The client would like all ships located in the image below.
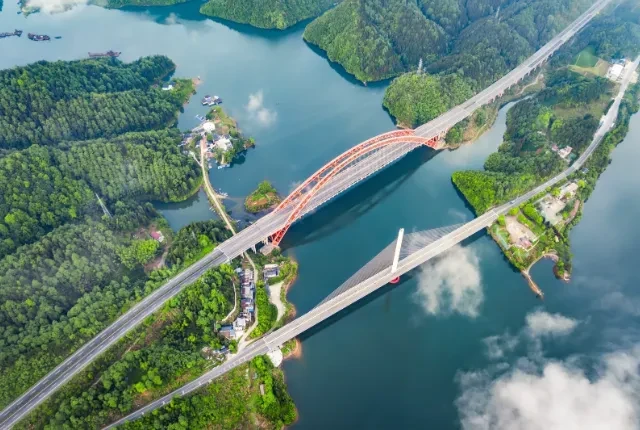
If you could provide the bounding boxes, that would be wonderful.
[28,34,49,39]
[88,49,119,56]
[0,29,21,36]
